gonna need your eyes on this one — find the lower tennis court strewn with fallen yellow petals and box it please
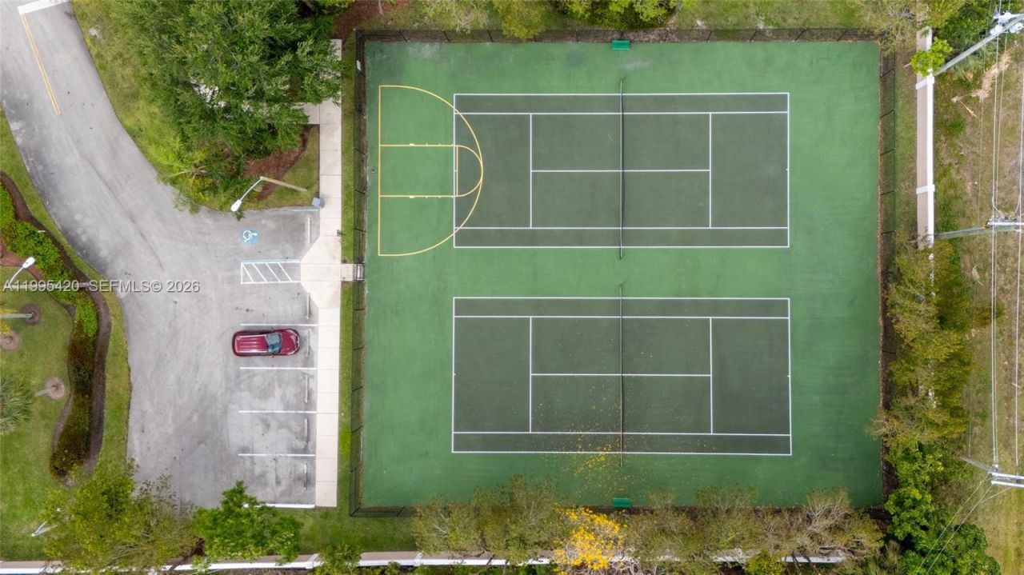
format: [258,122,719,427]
[452,297,791,455]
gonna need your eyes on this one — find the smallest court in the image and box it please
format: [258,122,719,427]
[378,86,483,255]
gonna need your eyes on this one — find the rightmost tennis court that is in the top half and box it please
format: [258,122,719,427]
[453,93,790,247]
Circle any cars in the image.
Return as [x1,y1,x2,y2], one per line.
[231,327,301,359]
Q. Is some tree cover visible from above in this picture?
Yes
